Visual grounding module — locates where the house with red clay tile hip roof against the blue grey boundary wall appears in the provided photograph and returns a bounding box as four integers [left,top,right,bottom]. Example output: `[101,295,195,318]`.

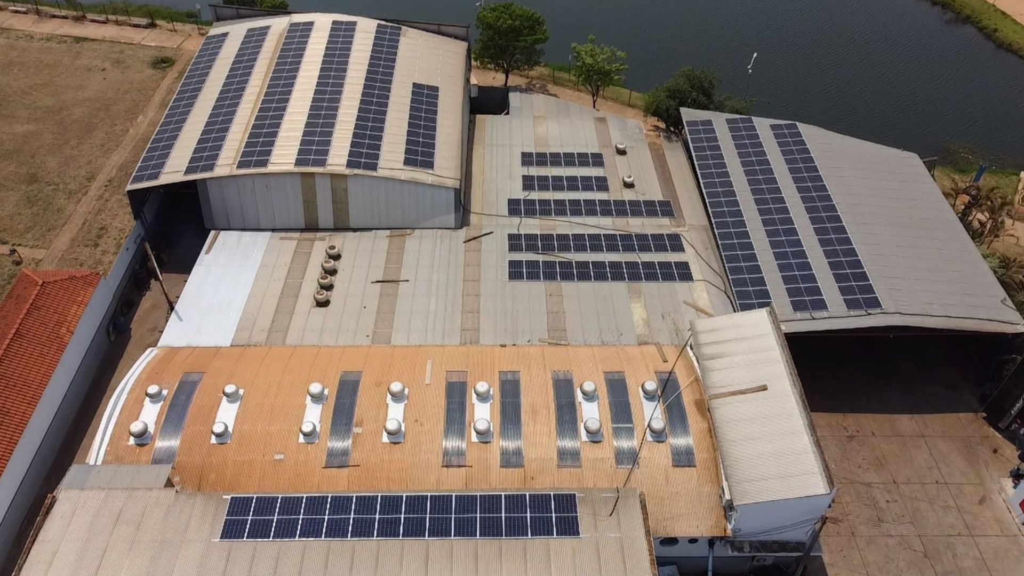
[0,268,103,470]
